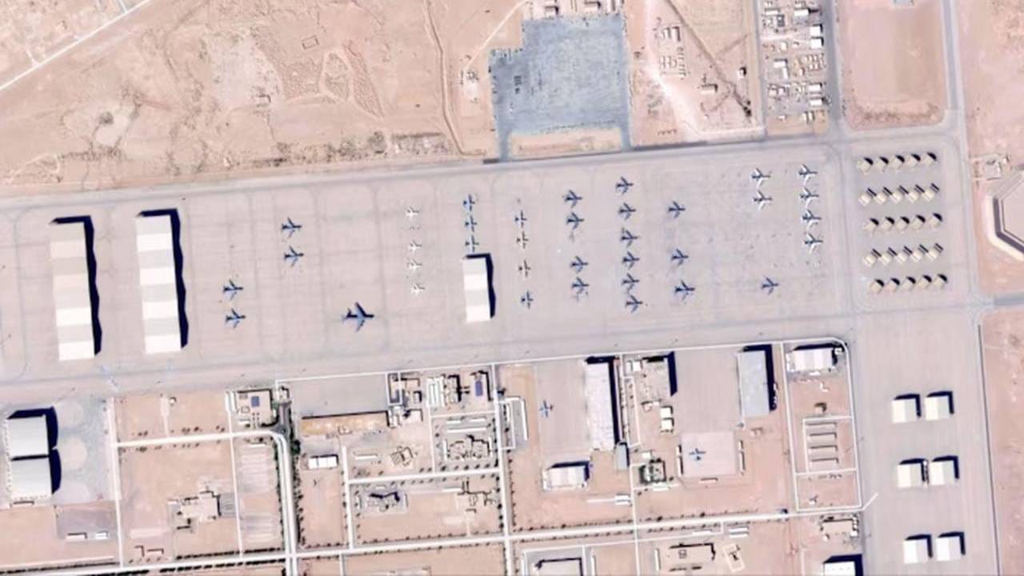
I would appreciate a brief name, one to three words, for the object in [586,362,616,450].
hangar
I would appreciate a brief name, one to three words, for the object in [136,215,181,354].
hangar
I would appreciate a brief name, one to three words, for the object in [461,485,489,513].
house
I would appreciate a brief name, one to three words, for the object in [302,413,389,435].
building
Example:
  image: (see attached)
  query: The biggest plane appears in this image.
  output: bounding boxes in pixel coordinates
[342,305,371,332]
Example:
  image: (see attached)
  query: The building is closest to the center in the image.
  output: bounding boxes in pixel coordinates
[462,257,491,322]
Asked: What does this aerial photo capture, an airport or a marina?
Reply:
airport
